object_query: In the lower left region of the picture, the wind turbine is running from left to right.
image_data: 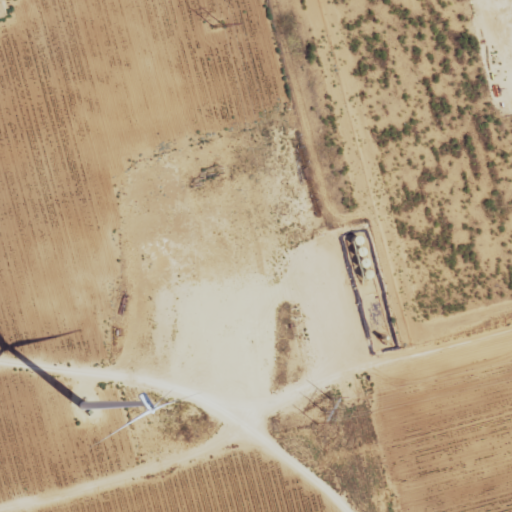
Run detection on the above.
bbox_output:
[78,388,198,442]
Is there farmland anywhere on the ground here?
Yes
